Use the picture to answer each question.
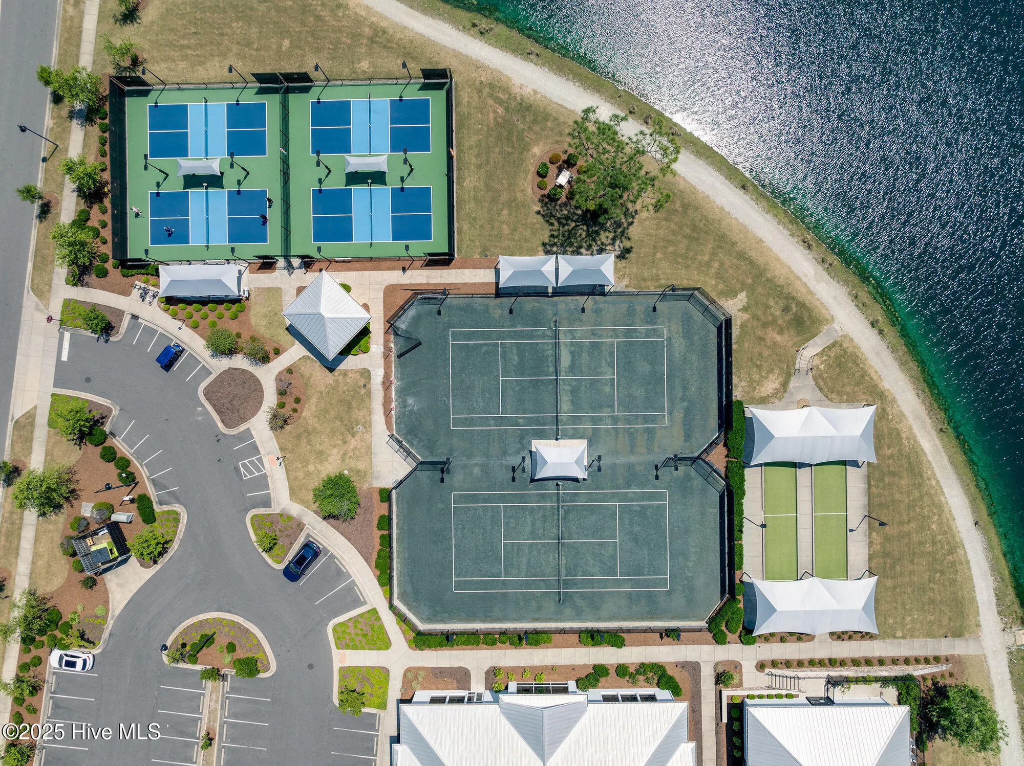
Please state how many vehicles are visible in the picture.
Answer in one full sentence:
My tally gives 3 vehicles in this view.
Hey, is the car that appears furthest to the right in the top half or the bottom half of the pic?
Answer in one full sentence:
The car that appears furthest to the right is in the bottom half of the image.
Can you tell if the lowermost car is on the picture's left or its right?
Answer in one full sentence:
It is on the left.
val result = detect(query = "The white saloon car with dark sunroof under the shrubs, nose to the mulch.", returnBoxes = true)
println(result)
[51,648,97,672]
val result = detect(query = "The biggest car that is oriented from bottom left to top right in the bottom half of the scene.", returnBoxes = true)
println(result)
[284,540,321,584]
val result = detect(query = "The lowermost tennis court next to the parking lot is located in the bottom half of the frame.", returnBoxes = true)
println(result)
[393,457,727,630]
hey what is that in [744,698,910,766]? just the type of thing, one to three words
building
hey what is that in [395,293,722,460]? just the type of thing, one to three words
tennis court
